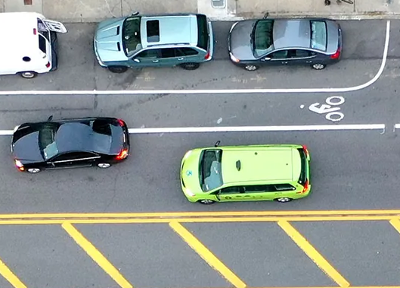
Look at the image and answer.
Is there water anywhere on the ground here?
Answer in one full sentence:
No, there's no water in this view.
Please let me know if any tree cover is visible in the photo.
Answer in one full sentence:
No, the scene doesn't show any tree cover.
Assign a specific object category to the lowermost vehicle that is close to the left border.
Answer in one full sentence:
In the photo, the lowermost vehicle that is close to the left border shows up as an automobile.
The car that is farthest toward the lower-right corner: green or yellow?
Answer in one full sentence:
From above, the car that is farthest toward the lower-right corner appears green.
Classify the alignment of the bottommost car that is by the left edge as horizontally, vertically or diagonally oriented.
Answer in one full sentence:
The bottommost car that is by the left edge has been laid out horizontally relative to the frame.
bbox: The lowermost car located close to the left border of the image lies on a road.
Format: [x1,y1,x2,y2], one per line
[11,111,131,174]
